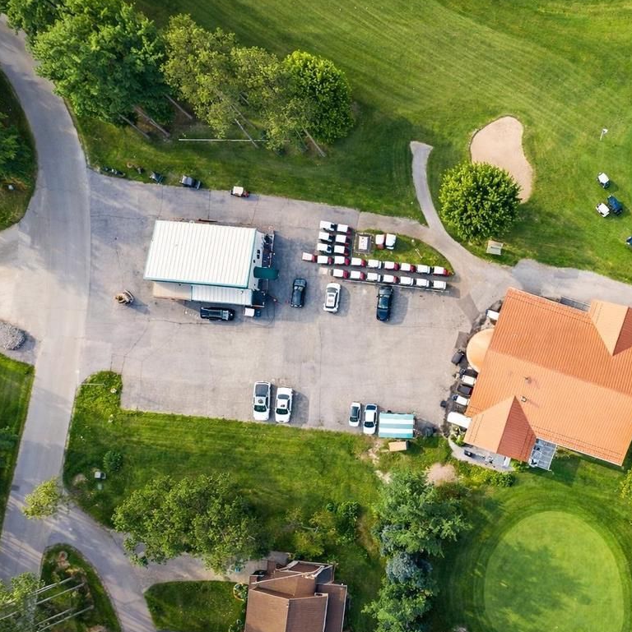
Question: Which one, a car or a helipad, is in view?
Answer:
car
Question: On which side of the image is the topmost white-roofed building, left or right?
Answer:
left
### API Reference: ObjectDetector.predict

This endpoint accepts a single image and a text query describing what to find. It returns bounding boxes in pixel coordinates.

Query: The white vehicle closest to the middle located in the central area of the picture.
[324,283,342,315]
